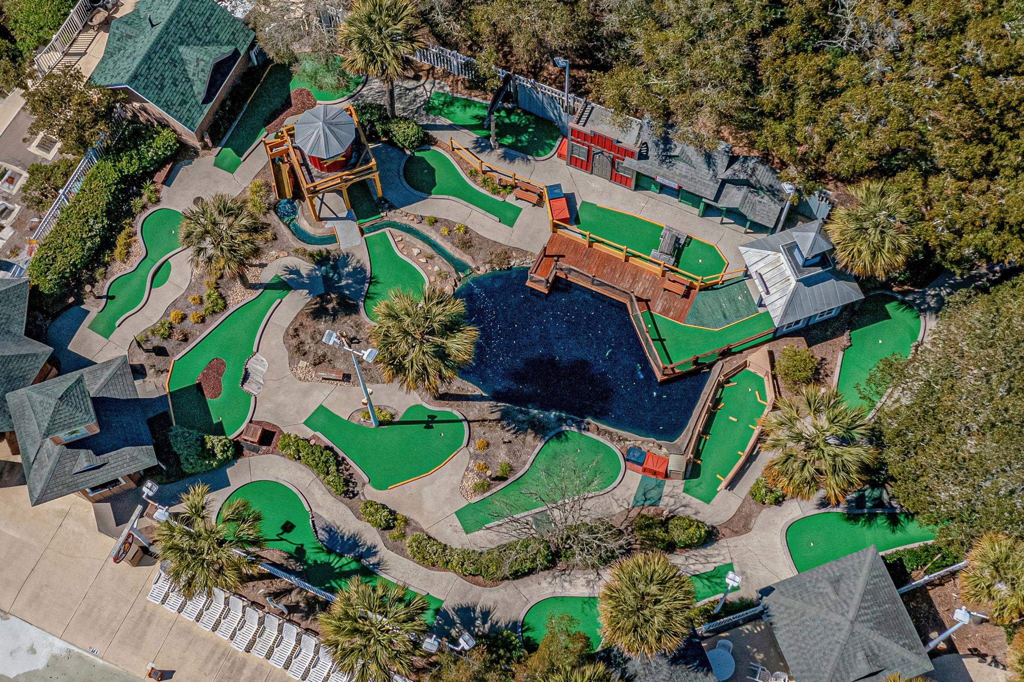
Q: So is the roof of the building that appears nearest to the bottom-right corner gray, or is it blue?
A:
gray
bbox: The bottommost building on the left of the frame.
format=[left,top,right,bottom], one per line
[11,353,158,511]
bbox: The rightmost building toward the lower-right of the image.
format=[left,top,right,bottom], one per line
[758,544,935,682]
